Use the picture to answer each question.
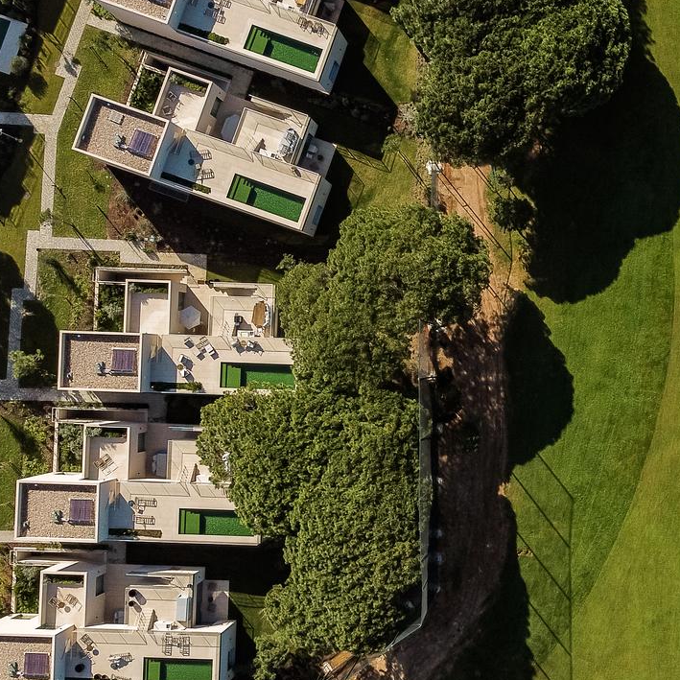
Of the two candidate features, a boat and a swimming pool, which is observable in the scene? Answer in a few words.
swimming pool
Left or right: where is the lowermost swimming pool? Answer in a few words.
left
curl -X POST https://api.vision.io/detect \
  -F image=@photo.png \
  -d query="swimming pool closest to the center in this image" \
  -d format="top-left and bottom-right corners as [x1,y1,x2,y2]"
[220,362,293,389]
